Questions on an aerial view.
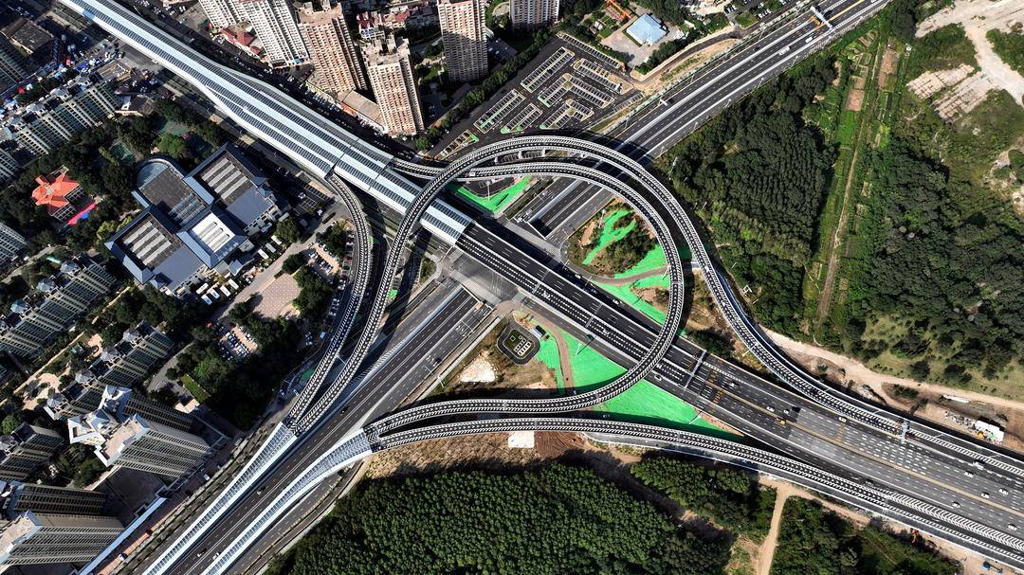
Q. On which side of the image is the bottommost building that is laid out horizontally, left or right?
left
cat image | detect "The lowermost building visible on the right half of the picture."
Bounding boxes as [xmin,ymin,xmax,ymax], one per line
[971,421,1004,442]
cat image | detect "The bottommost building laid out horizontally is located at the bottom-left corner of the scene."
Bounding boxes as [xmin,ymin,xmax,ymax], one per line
[0,510,122,572]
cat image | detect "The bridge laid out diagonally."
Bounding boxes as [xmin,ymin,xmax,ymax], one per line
[58,0,736,410]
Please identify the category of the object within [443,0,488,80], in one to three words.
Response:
building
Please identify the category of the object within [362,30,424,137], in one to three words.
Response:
building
